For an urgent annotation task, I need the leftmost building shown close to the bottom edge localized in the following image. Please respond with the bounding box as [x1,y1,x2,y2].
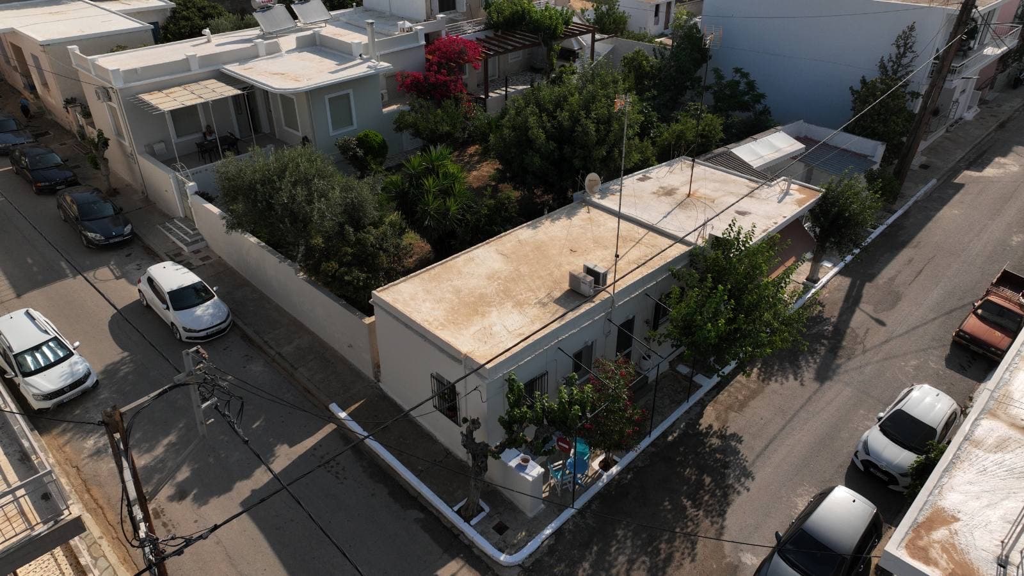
[0,383,86,576]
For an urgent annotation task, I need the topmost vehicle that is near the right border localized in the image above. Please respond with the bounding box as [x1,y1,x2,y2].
[950,279,1024,364]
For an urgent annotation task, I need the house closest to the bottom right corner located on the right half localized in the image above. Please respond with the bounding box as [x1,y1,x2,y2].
[880,328,1024,576]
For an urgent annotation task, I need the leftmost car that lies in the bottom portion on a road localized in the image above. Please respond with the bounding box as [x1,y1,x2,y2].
[0,298,98,407]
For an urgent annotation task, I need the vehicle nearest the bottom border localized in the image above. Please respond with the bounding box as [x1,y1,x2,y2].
[743,483,889,576]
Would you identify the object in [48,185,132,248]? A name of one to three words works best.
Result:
car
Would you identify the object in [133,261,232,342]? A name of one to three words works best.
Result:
car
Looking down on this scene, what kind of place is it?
residential area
